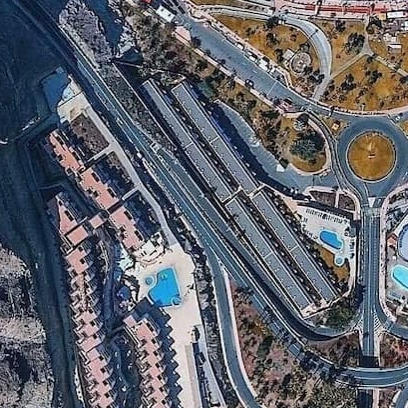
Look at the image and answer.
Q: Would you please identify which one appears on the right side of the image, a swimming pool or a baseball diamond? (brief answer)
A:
swimming pool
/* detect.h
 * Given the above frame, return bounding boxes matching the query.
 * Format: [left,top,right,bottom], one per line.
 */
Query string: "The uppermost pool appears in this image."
[318,225,346,265]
